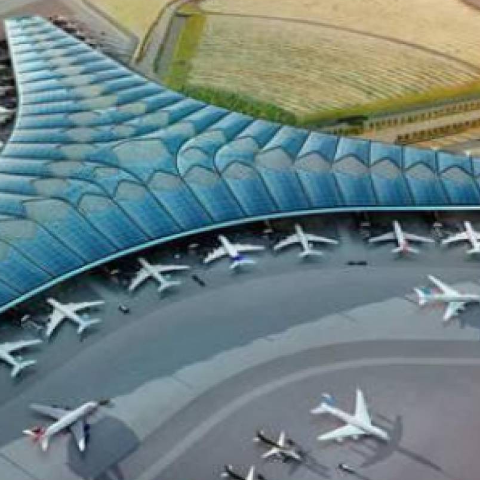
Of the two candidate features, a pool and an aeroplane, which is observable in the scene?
aeroplane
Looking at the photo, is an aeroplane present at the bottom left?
Yes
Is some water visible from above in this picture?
No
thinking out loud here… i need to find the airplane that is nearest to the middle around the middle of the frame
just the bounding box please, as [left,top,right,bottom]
[210,238,263,265]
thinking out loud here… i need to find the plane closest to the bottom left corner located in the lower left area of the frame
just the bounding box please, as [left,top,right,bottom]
[32,405,94,448]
